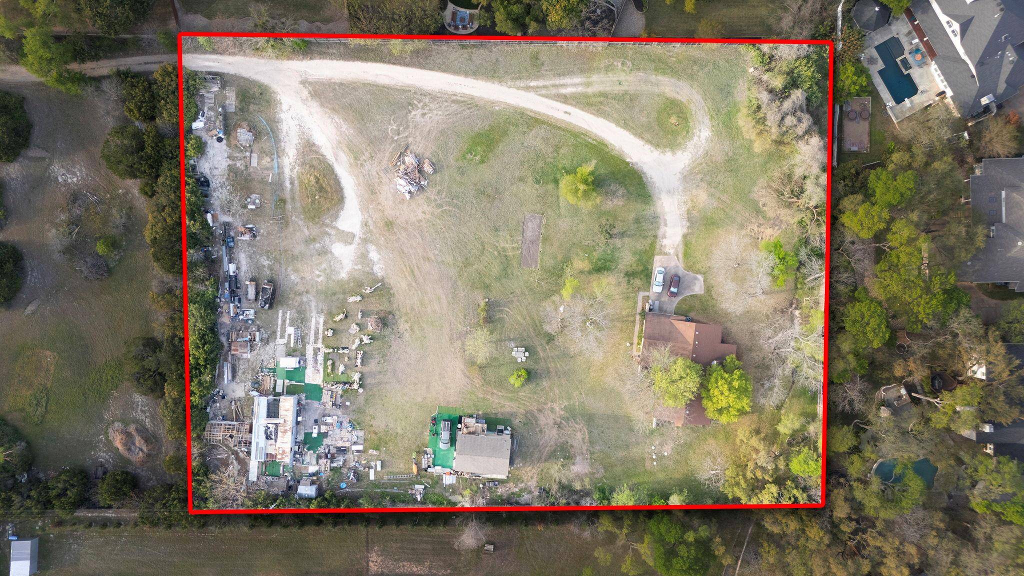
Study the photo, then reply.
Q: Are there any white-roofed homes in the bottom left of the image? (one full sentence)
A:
Yes, I can see a white-roofed home in the bottom left of the image.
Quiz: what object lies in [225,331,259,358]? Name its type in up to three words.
shed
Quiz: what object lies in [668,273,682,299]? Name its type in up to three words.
car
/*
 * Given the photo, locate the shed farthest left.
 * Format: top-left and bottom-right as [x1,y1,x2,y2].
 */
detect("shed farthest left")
[11,532,49,576]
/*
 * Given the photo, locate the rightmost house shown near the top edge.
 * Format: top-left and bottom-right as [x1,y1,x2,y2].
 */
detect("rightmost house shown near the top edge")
[896,0,1024,121]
